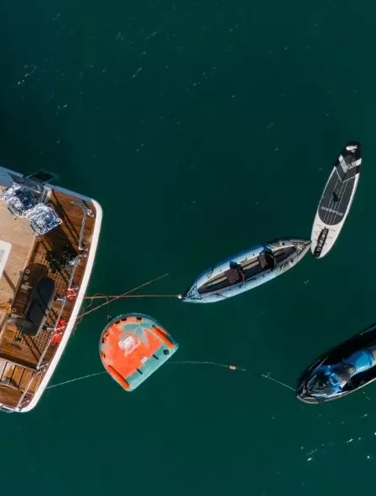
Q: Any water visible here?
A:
Yes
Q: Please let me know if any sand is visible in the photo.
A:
No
